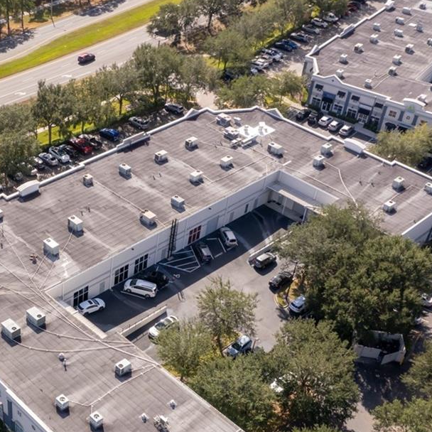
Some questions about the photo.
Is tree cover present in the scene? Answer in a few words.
Yes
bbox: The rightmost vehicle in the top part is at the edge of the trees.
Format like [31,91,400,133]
[419,158,432,170]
